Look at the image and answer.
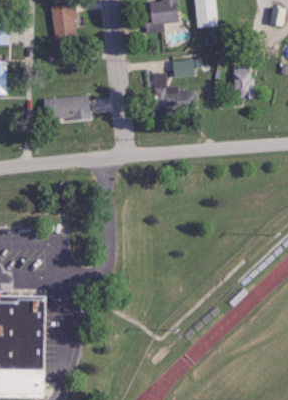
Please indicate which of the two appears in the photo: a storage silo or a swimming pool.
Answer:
swimming pool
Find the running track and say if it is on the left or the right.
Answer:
right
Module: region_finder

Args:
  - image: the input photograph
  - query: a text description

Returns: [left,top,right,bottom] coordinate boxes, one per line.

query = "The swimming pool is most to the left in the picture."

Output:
[164,22,190,48]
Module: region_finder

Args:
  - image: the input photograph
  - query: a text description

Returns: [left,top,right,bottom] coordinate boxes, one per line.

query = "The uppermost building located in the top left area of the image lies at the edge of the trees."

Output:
[50,7,80,38]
